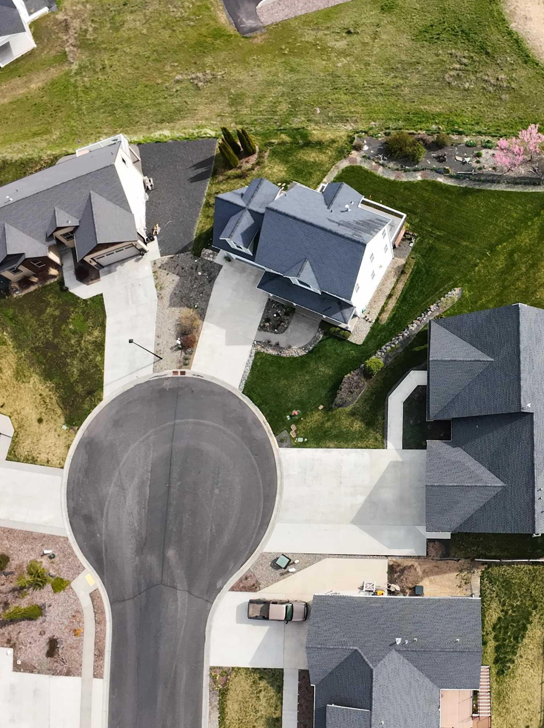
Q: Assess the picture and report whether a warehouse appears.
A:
No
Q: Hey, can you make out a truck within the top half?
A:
No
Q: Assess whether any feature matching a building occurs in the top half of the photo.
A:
Yes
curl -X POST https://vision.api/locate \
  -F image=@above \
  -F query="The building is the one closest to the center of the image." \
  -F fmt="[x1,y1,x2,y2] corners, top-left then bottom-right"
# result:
[212,173,406,331]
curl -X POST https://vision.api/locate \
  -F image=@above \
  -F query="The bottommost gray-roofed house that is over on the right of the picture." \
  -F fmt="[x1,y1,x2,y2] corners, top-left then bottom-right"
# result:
[305,593,491,728]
